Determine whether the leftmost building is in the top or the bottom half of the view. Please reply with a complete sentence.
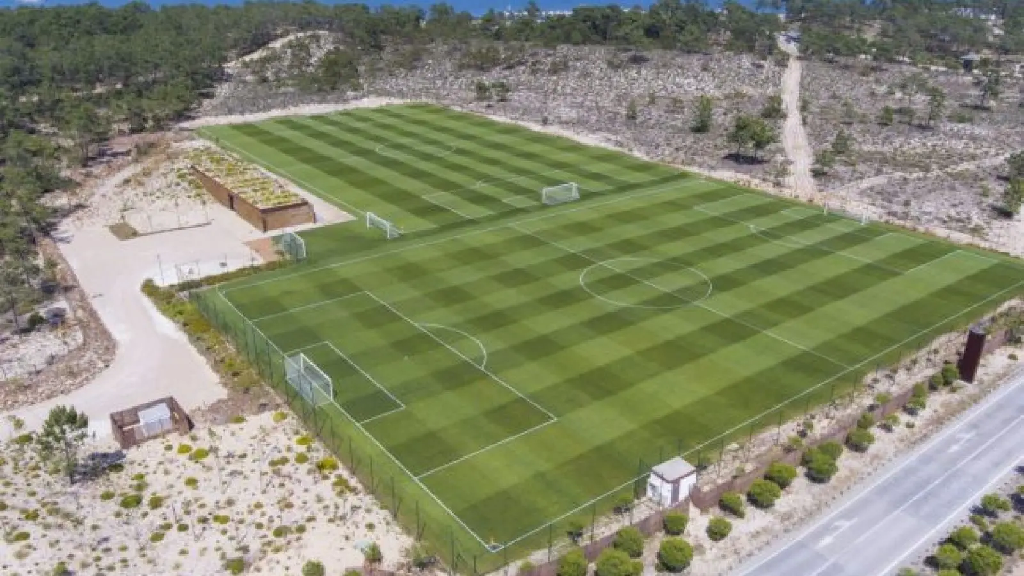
Seen from above, the leftmost building lies in the top half of the view.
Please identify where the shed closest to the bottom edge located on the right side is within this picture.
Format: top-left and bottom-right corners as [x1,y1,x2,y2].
[644,455,700,507]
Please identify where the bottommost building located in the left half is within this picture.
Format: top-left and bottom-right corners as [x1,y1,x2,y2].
[186,155,315,232]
